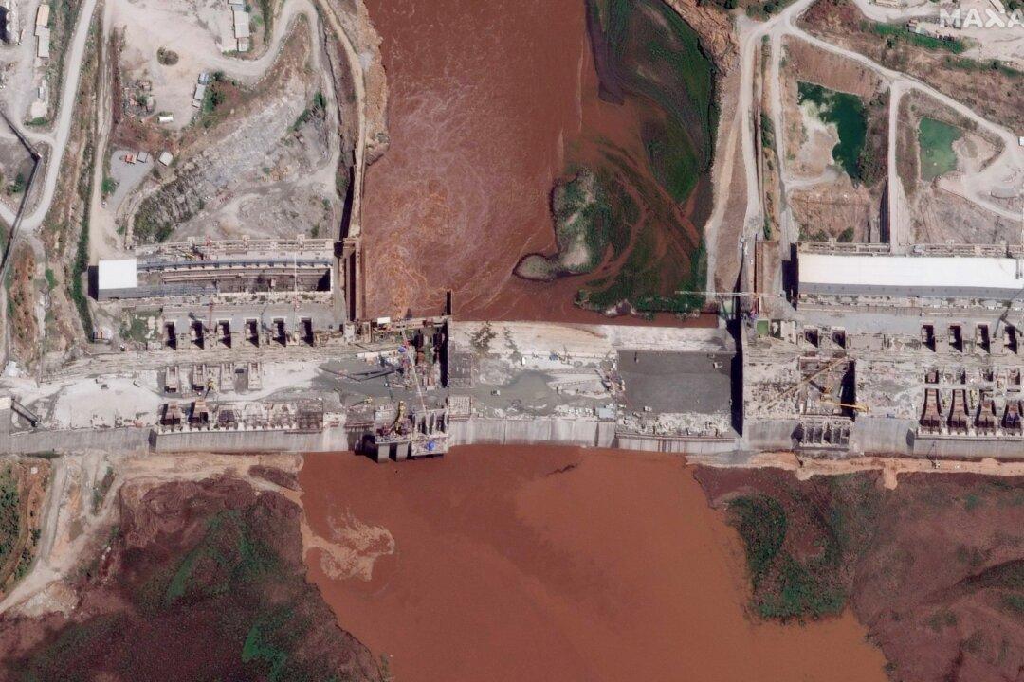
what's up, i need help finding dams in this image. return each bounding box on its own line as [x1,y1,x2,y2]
[0,311,1024,460]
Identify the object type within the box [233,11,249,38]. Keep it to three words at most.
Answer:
shed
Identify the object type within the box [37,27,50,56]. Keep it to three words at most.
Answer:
shed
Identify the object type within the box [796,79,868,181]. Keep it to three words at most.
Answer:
pond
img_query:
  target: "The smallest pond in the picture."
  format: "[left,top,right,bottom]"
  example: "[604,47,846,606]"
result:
[919,116,960,181]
